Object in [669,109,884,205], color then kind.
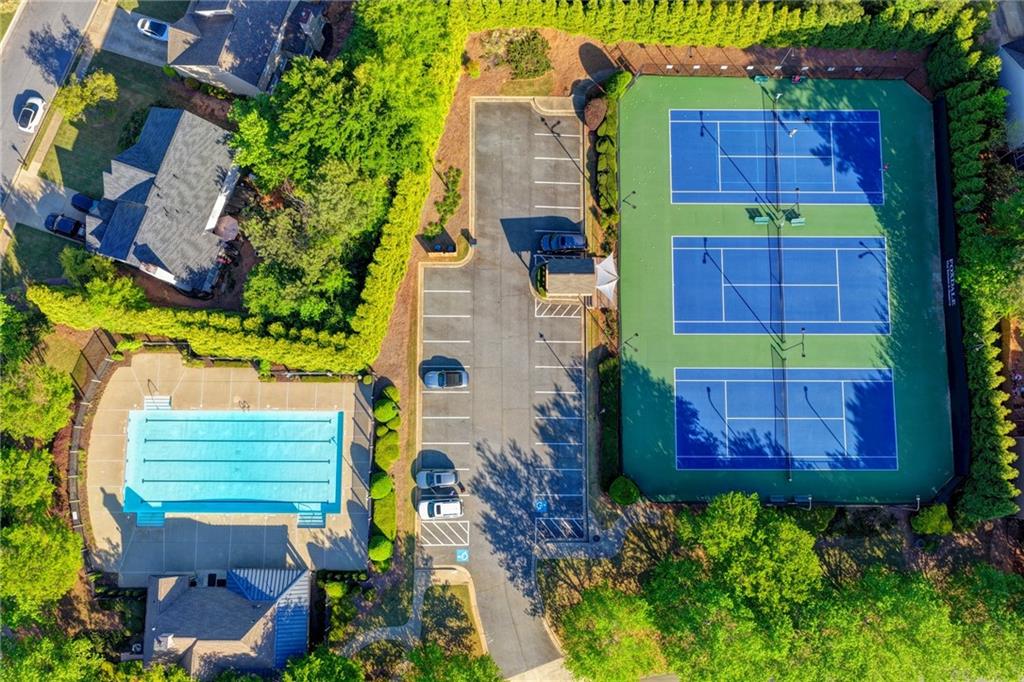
blue tennis court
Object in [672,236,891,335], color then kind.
blue tennis court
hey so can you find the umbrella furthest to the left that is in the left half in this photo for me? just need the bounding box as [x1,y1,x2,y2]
[217,217,240,240]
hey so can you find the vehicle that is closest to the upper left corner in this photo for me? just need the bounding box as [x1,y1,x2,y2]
[14,93,43,133]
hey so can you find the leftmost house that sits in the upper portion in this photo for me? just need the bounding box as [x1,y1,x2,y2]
[86,107,240,286]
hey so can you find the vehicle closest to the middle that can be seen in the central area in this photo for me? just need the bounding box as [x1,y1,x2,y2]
[424,369,468,389]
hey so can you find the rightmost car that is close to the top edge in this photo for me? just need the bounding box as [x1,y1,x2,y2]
[133,15,171,41]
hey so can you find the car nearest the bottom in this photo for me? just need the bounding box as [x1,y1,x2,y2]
[419,500,463,523]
